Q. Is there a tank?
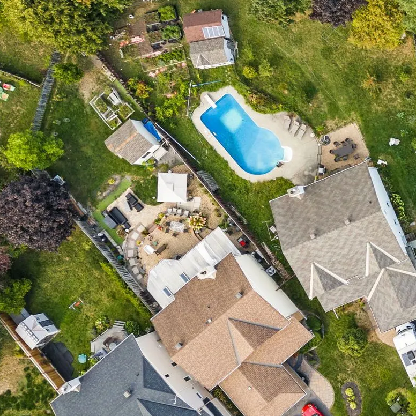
No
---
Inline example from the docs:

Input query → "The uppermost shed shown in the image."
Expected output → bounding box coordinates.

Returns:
[181,9,232,43]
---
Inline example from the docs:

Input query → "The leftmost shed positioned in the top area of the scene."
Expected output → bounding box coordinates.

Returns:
[105,119,164,164]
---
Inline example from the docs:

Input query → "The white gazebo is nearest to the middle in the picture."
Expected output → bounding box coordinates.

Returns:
[157,174,195,203]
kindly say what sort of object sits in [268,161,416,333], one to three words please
house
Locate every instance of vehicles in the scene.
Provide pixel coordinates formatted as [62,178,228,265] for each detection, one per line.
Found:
[300,402,323,416]
[395,321,416,391]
